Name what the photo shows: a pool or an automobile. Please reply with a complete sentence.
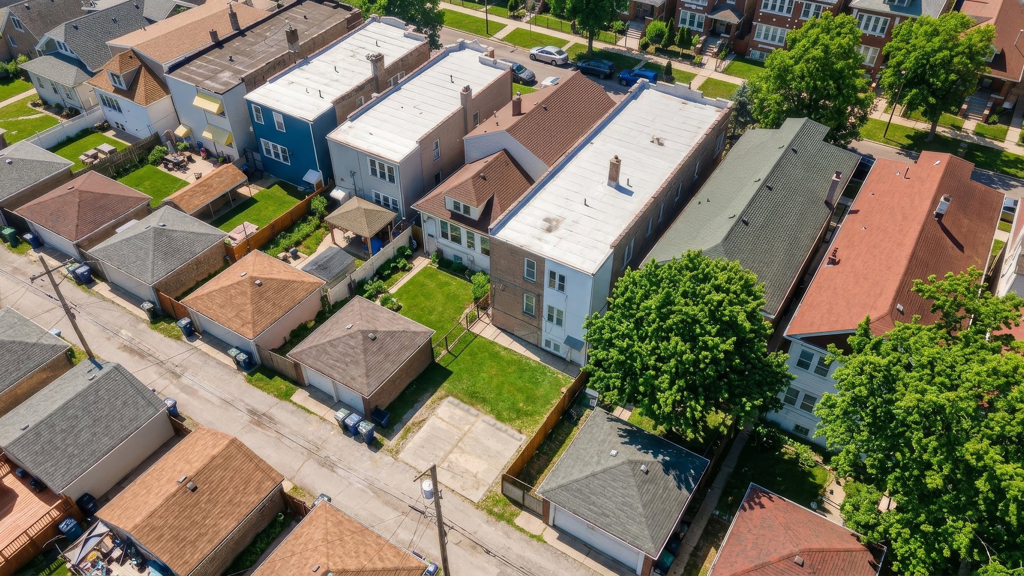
It is an automobile that can be seen here.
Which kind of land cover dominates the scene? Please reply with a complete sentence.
The scene is dominated by buildings.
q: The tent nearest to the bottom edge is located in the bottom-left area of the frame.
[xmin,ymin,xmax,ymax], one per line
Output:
[55,517,116,576]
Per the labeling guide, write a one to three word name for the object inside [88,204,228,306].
building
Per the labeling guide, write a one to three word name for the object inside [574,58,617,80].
car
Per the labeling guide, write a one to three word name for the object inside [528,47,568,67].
car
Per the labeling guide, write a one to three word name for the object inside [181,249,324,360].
building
